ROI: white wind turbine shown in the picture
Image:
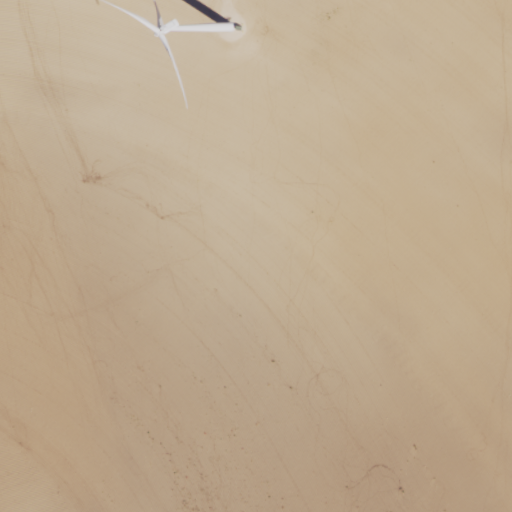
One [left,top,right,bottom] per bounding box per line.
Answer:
[104,0,235,108]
